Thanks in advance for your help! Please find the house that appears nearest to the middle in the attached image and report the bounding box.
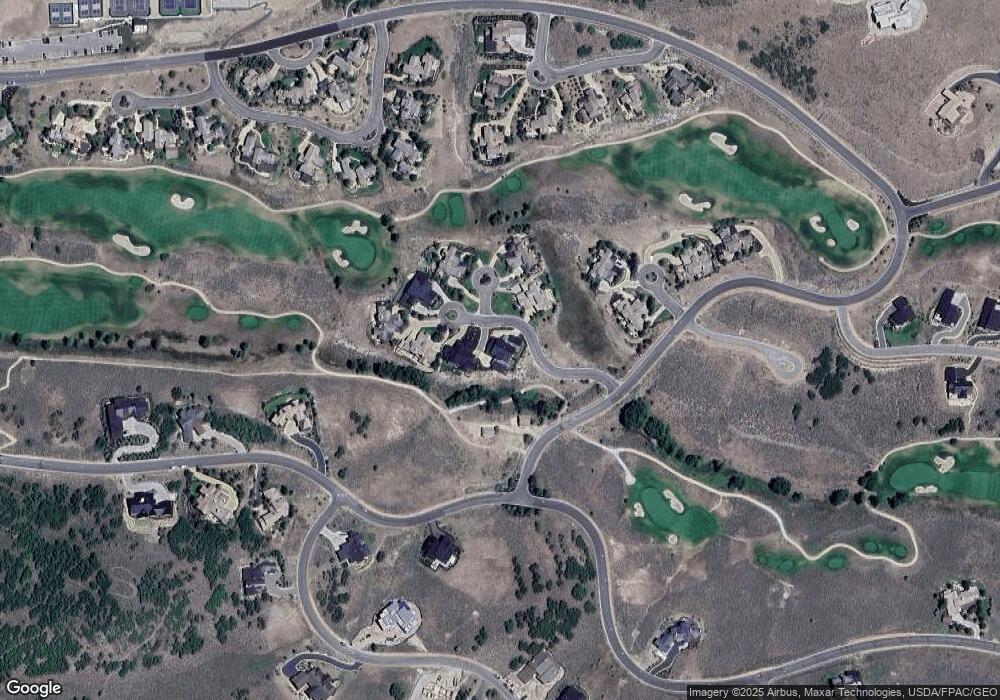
[485,334,523,372]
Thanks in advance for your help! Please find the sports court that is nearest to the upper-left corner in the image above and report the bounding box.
[49,3,73,23]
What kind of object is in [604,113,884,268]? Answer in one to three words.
golf course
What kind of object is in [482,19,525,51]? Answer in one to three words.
house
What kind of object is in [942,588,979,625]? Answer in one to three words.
house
